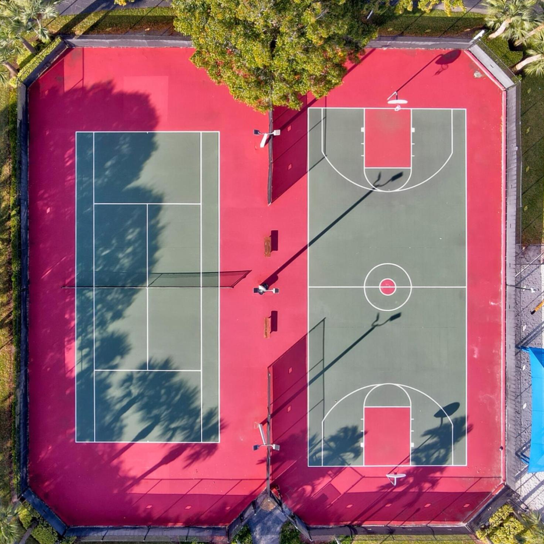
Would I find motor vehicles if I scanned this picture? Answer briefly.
No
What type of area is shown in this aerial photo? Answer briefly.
sports ground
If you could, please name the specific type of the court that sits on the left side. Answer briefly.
tennis court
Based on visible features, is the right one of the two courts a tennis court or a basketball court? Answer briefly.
basketball court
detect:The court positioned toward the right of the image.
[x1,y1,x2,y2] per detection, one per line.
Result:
[269,48,506,526]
